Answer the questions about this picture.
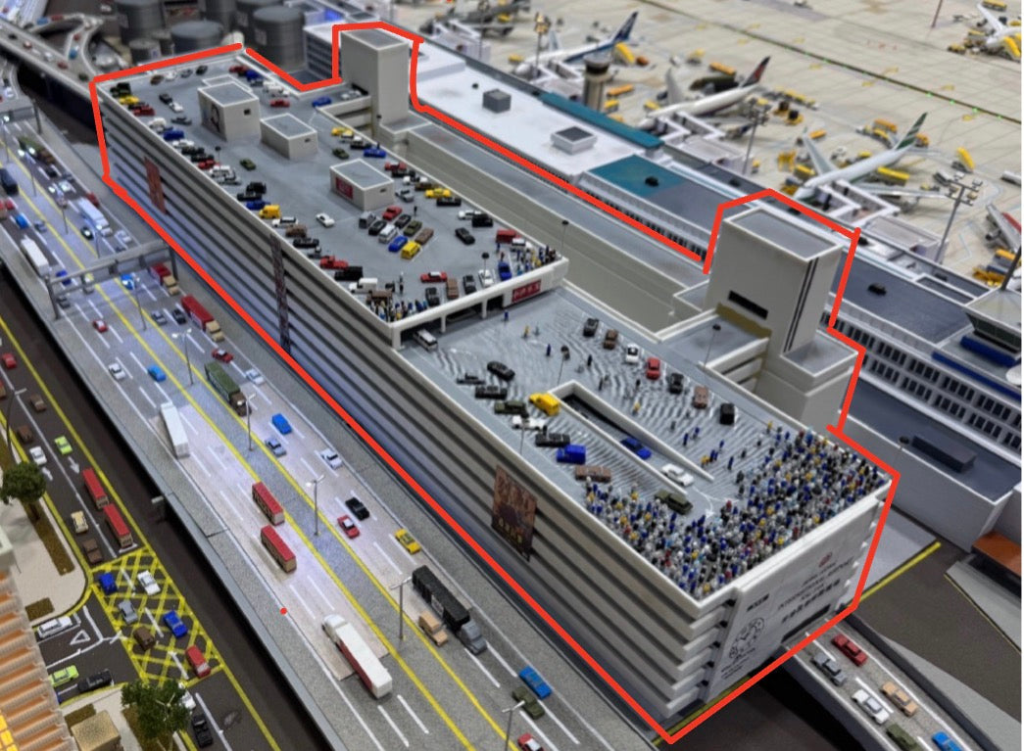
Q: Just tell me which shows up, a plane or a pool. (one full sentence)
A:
I can see a plane in this picture.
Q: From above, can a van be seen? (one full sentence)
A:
Yes, the frame does contain a van.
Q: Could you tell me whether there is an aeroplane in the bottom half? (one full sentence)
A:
No, I see no aeroplane in the bottom half.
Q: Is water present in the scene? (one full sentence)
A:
No, the scene doesn't show any water.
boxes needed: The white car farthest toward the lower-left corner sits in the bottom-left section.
[36,617,76,639]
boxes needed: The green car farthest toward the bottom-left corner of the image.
[46,665,83,683]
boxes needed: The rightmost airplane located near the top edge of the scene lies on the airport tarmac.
[960,8,1024,53]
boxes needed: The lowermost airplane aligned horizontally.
[778,98,984,207]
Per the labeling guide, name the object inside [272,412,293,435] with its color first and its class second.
blue vehicle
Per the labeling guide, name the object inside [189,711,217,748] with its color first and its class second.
black truck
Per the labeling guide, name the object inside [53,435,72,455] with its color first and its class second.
green car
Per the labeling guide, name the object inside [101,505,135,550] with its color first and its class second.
red bus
